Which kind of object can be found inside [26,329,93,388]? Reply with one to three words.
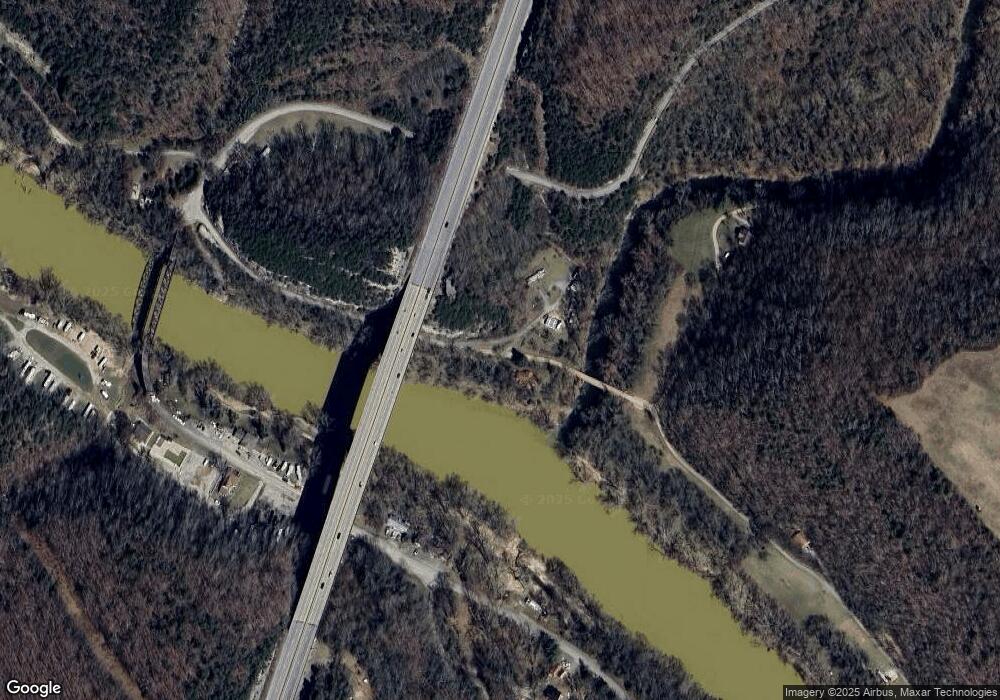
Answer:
pond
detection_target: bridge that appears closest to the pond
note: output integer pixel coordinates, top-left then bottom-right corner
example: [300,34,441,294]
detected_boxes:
[146,229,181,348]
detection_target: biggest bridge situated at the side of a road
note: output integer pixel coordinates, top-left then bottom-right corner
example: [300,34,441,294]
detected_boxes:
[293,280,435,626]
